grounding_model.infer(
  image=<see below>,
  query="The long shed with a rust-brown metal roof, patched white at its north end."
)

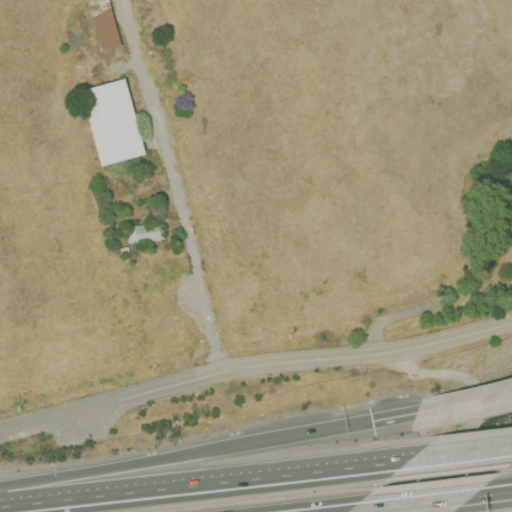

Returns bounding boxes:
[89,0,122,50]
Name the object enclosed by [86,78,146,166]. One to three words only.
barn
